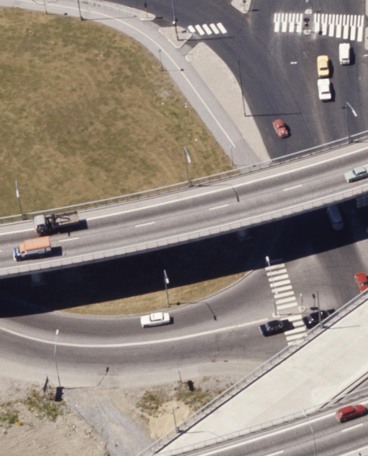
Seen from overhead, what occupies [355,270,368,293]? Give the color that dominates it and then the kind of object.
red vehicle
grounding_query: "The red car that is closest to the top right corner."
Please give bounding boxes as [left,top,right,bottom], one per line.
[273,119,288,138]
